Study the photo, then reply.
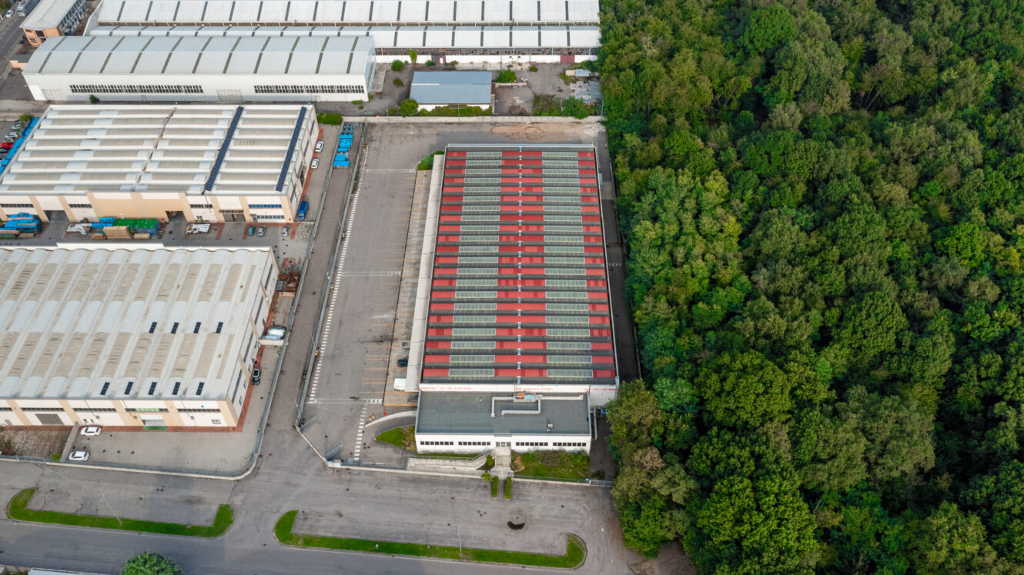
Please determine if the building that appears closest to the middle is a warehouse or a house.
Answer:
warehouse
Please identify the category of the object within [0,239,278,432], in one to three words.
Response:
building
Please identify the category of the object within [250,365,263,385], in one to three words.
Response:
vehicle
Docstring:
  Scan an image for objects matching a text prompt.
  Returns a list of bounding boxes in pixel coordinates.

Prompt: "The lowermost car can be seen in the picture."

[67,449,92,461]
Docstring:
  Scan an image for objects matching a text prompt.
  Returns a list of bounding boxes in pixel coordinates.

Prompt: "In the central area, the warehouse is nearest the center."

[407,146,621,410]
